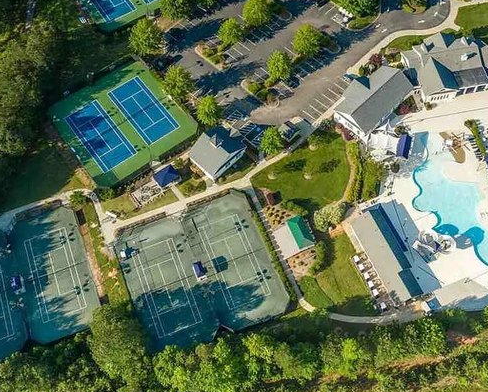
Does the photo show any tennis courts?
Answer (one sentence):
Yes, this view includes a tennis court.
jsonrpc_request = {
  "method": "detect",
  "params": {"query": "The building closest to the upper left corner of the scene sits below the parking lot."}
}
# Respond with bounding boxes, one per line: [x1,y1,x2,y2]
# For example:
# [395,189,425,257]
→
[153,164,183,194]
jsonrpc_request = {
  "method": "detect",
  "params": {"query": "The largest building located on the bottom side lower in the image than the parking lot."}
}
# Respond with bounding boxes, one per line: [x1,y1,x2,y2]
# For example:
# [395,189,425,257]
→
[351,210,435,310]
